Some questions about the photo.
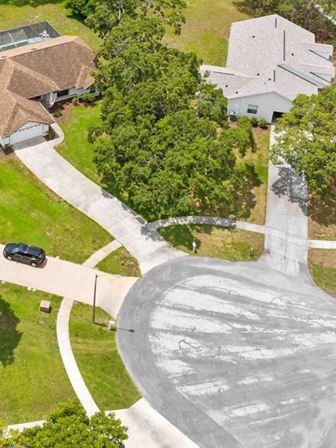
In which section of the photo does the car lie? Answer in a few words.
left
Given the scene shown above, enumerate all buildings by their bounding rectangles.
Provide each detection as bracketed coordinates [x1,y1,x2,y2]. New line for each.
[0,35,107,152]
[201,14,336,123]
